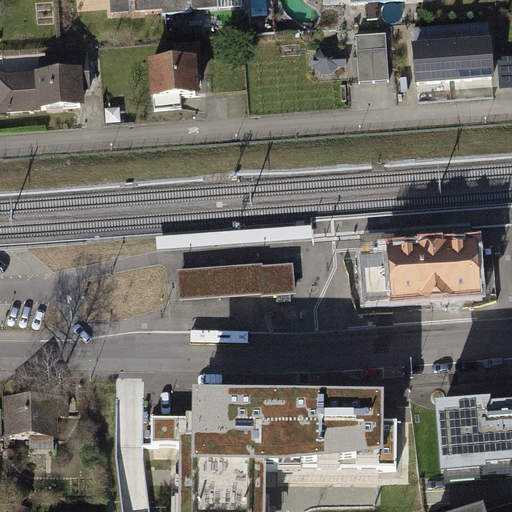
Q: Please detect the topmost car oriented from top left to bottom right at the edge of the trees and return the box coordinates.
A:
[73,321,92,342]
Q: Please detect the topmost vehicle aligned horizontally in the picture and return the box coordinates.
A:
[190,330,250,345]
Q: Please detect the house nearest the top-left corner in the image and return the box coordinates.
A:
[0,55,90,113]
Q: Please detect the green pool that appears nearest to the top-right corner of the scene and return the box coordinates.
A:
[279,0,322,30]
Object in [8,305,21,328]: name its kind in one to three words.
vehicle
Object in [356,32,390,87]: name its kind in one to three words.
building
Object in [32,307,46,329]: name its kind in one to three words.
vehicle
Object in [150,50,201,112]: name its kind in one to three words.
house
